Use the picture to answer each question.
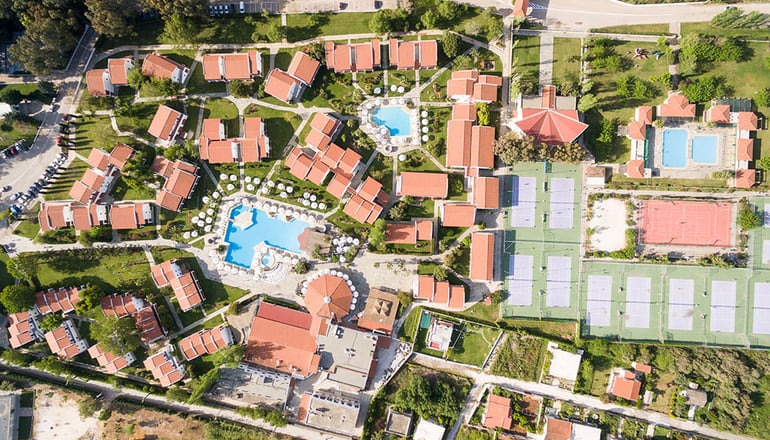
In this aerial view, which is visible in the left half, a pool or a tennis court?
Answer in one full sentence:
What appears in the left half is a pool.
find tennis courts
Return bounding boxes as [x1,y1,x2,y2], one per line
[747,270,770,347]
[502,241,541,320]
[580,261,622,340]
[620,262,662,342]
[539,243,580,321]
[504,161,544,243]
[662,265,705,344]
[542,162,582,244]
[750,233,770,271]
[751,197,770,234]
[704,267,749,346]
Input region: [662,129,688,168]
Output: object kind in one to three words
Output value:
swimming pool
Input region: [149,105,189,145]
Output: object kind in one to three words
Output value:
house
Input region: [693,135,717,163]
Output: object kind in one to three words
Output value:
swimming pool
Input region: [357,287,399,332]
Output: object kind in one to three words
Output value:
building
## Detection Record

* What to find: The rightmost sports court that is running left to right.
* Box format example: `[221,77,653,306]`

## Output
[644,200,732,247]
